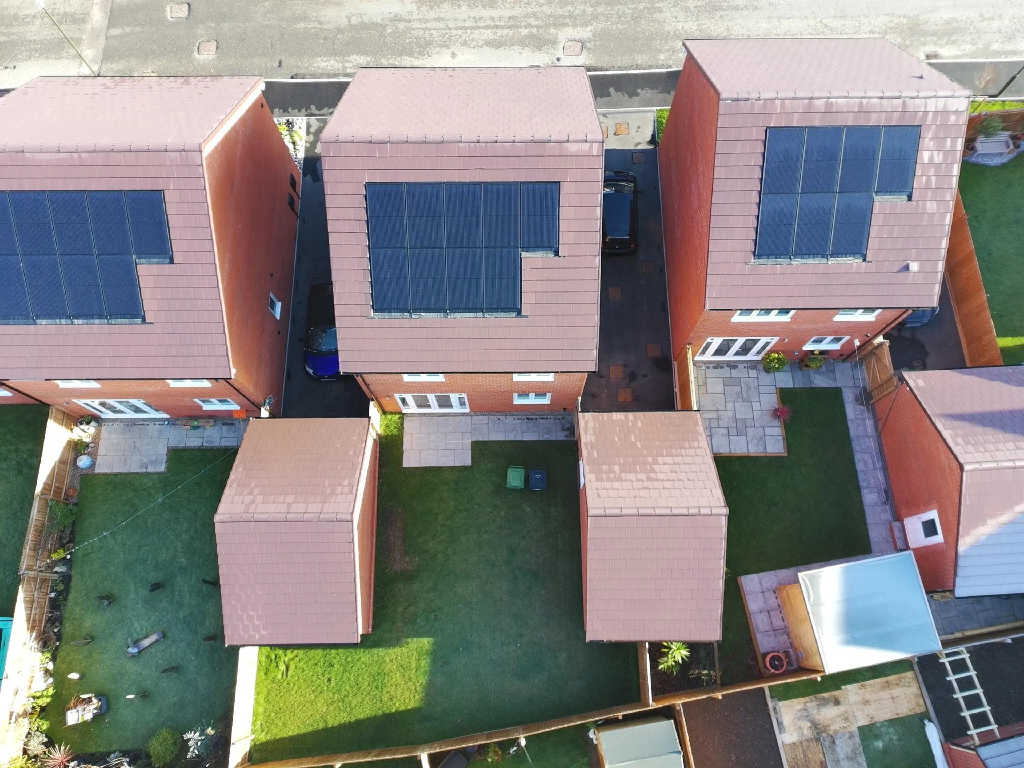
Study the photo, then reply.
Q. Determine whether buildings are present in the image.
Yes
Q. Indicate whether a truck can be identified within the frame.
No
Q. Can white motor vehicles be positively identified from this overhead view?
No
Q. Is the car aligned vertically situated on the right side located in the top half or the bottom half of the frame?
top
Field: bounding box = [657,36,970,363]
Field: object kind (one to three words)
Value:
house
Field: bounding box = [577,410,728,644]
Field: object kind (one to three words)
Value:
building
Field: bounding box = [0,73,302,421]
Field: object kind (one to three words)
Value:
house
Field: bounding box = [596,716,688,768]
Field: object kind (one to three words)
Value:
shed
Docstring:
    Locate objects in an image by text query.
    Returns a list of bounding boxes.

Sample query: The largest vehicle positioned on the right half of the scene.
[602,163,644,261]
